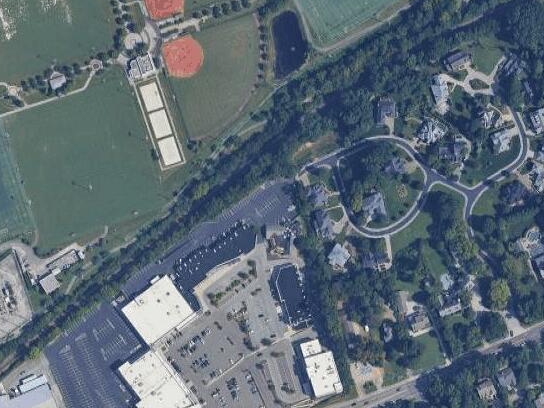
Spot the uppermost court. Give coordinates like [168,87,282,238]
[137,80,165,113]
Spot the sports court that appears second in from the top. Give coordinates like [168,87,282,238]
[146,107,174,141]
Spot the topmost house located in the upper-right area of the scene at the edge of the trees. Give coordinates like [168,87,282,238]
[440,47,474,74]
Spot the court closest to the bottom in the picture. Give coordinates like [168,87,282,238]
[155,135,185,169]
